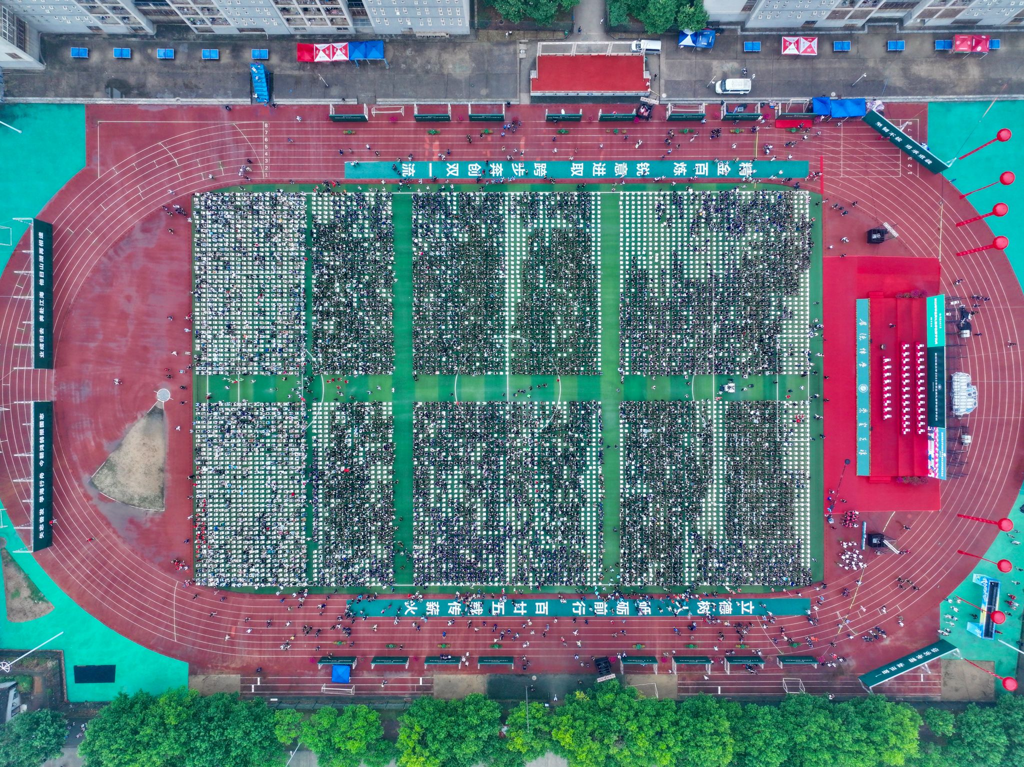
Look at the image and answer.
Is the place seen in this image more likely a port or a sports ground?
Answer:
sports ground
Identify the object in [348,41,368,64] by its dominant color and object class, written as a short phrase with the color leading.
blue tent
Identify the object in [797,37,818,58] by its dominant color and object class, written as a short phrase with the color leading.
white tent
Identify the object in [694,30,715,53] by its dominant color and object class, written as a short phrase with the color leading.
blue tent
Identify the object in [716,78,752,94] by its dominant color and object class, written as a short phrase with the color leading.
white vehicle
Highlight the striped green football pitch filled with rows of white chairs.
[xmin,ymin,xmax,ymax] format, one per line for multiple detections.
[191,184,823,594]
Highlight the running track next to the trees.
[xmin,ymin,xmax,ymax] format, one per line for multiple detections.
[0,101,1024,675]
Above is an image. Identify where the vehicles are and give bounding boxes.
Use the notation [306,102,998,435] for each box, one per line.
[631,40,661,56]
[716,78,752,94]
